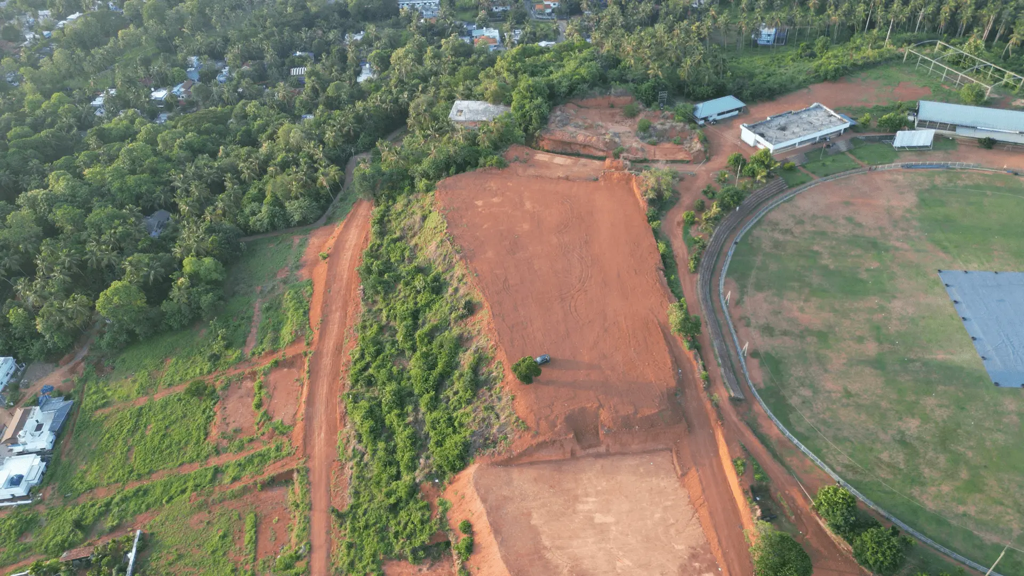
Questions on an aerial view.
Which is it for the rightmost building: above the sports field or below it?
above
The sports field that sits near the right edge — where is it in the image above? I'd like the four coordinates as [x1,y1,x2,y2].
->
[721,164,1024,576]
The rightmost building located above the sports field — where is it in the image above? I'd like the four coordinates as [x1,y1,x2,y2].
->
[915,101,1024,144]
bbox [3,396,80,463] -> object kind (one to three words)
house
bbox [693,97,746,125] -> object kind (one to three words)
building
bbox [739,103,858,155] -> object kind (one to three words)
building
